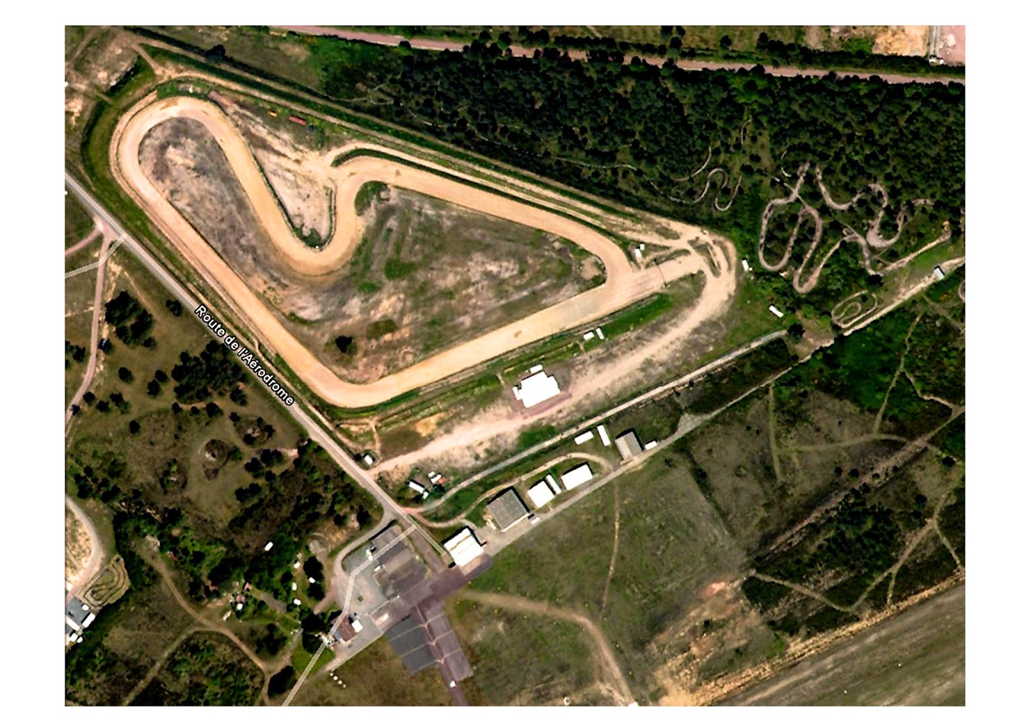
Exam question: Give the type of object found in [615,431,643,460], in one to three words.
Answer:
building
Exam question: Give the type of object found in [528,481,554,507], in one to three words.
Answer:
hangar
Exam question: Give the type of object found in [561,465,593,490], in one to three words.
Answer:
hangar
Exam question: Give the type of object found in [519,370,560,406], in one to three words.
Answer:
building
